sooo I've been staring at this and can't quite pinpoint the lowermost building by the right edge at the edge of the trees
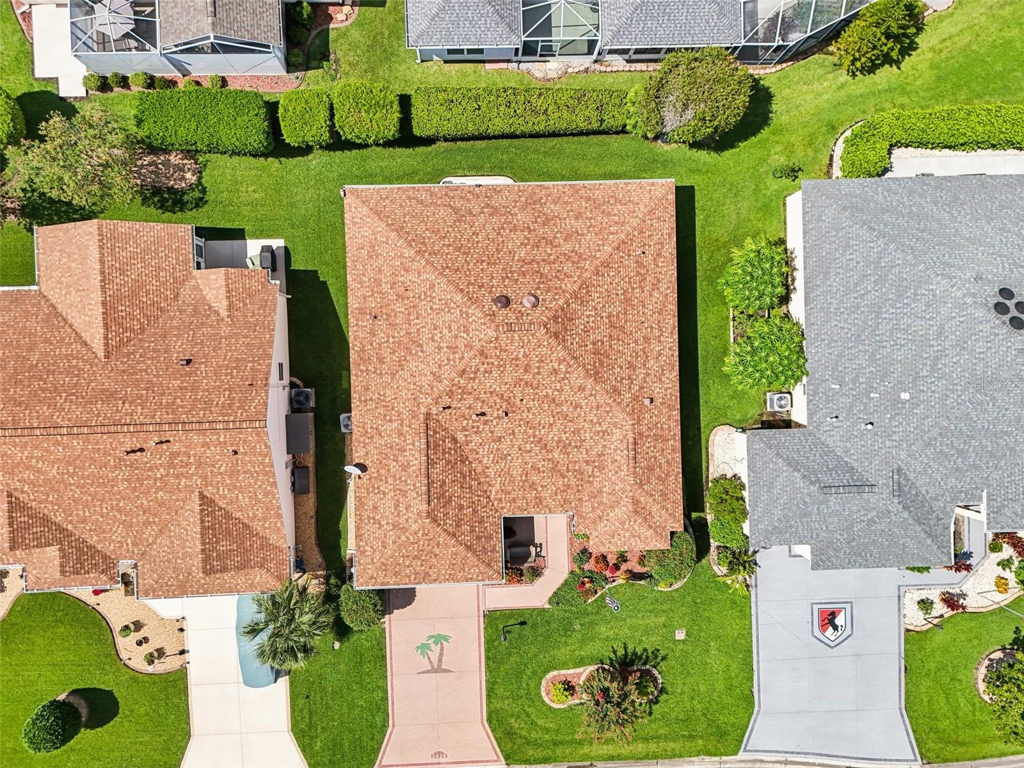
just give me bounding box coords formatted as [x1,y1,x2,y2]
[736,176,1024,572]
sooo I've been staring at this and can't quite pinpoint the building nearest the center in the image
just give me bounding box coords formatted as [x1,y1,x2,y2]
[343,178,685,590]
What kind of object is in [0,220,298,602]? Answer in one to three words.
house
